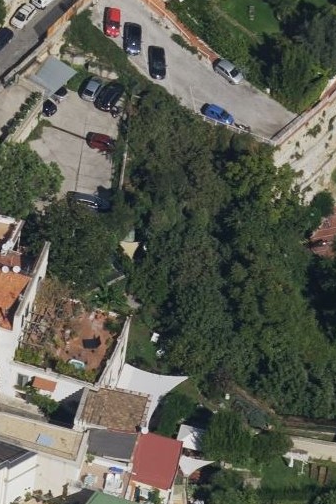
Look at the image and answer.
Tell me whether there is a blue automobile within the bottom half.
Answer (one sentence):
No, no blue automobile can be made out within the bottom half.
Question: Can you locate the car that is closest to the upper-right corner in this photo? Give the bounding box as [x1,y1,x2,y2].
[210,58,245,87]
